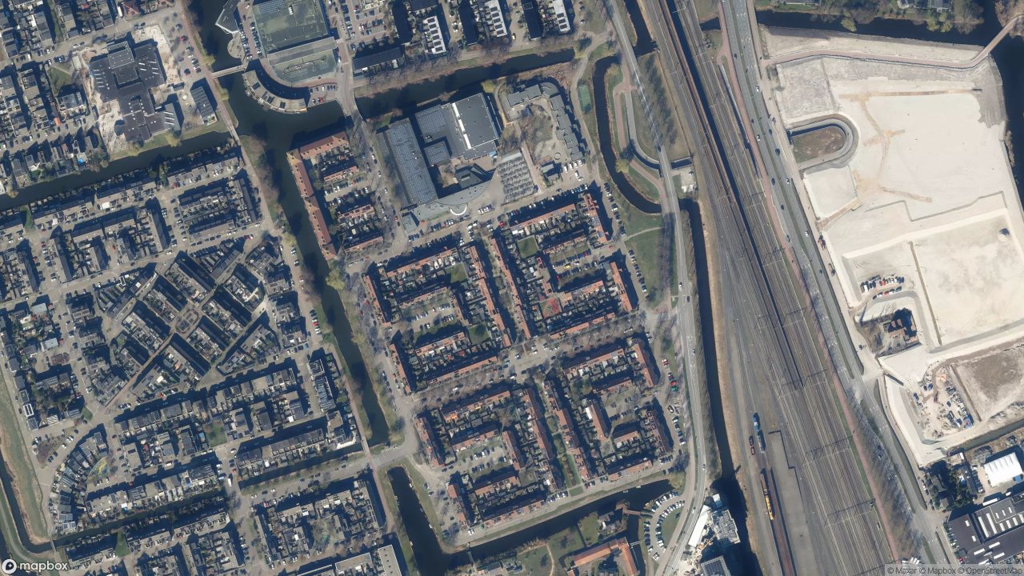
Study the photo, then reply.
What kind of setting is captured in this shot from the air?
residential area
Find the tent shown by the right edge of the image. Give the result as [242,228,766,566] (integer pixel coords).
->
[984,453,1020,485]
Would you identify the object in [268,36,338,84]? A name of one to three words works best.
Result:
building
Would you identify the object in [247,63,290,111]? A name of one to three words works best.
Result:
building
